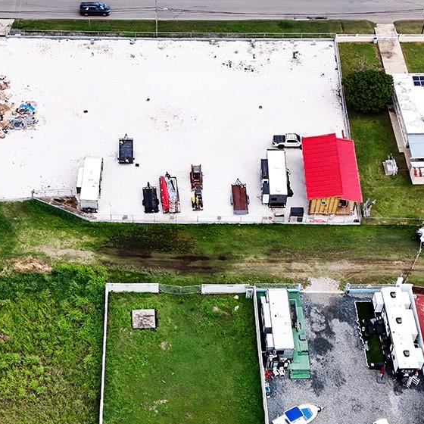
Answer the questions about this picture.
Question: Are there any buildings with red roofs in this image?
Yes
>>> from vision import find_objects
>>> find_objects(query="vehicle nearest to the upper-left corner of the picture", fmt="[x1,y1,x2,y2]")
[79,0,111,17]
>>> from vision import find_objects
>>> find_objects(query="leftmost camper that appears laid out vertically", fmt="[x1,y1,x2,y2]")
[76,159,102,213]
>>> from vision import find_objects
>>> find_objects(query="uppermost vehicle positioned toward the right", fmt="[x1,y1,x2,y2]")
[272,133,303,152]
